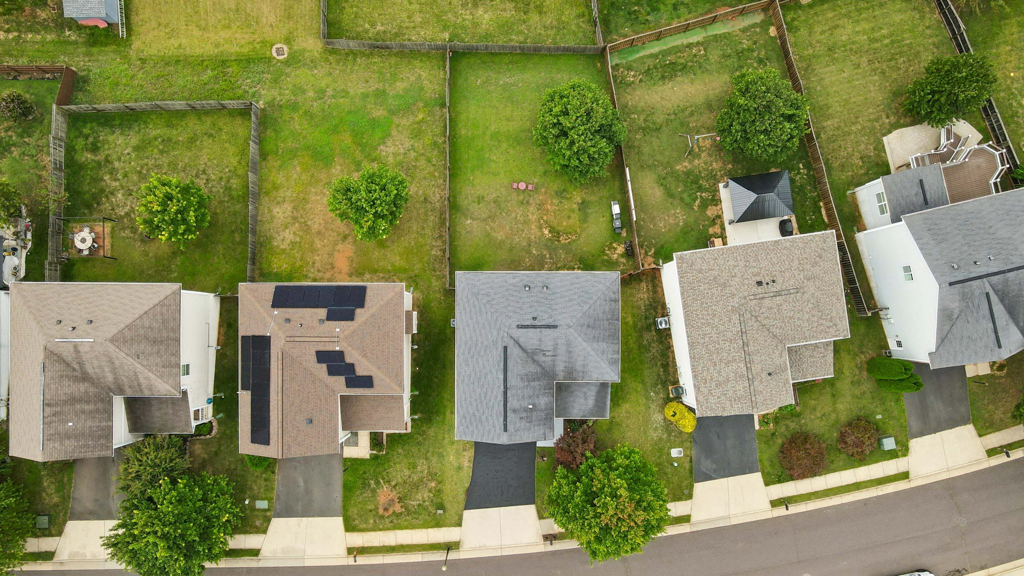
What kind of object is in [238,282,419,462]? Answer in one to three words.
house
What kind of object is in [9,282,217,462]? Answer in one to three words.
house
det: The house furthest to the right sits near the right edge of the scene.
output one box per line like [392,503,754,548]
[853,162,1024,371]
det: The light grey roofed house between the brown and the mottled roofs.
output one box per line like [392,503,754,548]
[454,271,621,446]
